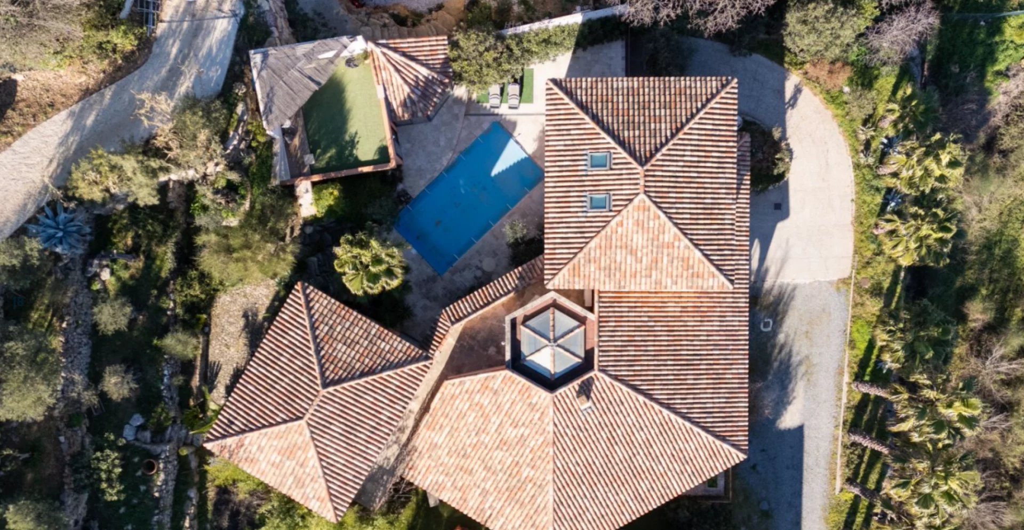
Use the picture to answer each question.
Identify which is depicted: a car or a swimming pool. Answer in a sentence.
I can see a swimming pool in this picture.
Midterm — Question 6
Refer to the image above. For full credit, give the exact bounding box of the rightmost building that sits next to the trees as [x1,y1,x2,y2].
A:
[399,75,752,530]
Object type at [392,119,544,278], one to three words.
swimming pool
